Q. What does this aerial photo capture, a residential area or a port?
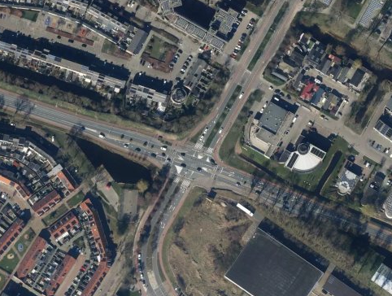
residential area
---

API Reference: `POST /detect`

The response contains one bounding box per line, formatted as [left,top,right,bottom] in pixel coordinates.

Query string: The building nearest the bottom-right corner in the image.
[372,263,392,294]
